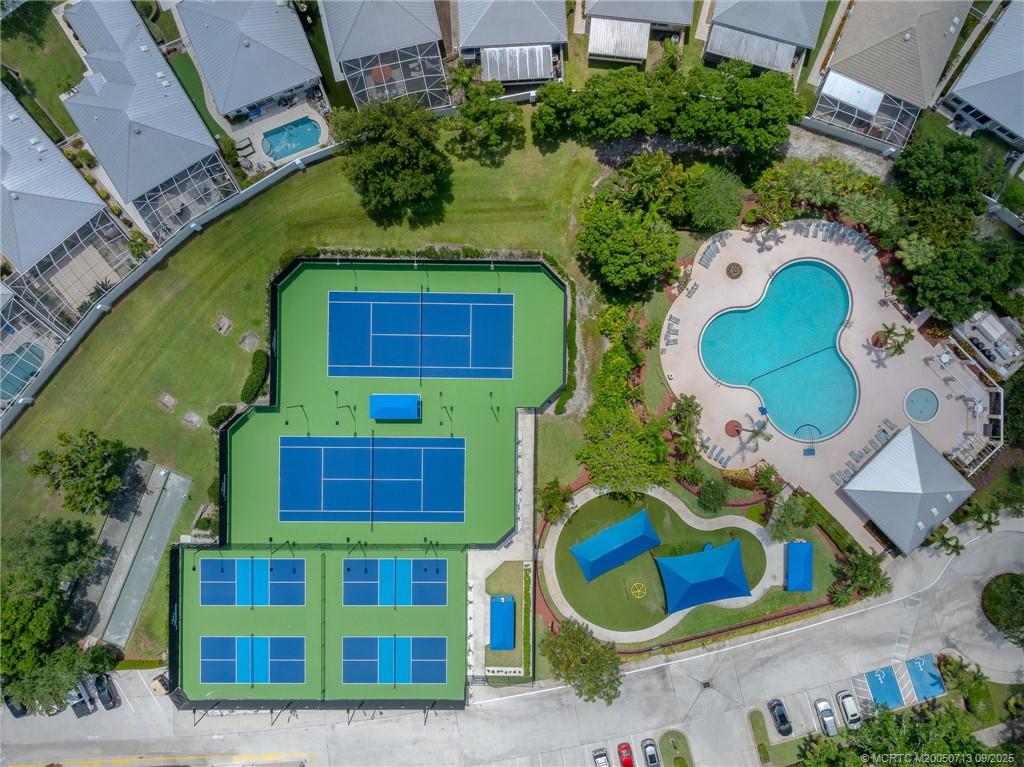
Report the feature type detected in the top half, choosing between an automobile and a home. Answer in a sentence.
What appears in the top half is a home.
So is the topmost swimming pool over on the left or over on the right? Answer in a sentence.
You can find the topmost swimming pool on the left side of the picture.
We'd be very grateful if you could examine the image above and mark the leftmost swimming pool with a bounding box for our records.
[0,341,45,398]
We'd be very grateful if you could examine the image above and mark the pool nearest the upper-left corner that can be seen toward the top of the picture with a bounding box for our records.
[260,114,322,162]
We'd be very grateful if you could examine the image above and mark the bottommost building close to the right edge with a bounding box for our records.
[837,424,976,555]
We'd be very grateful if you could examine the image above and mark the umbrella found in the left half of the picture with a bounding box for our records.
[371,64,392,85]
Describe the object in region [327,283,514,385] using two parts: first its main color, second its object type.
blue tennis court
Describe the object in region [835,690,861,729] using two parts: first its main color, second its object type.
white car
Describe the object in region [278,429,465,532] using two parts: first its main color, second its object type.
blue tennis court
